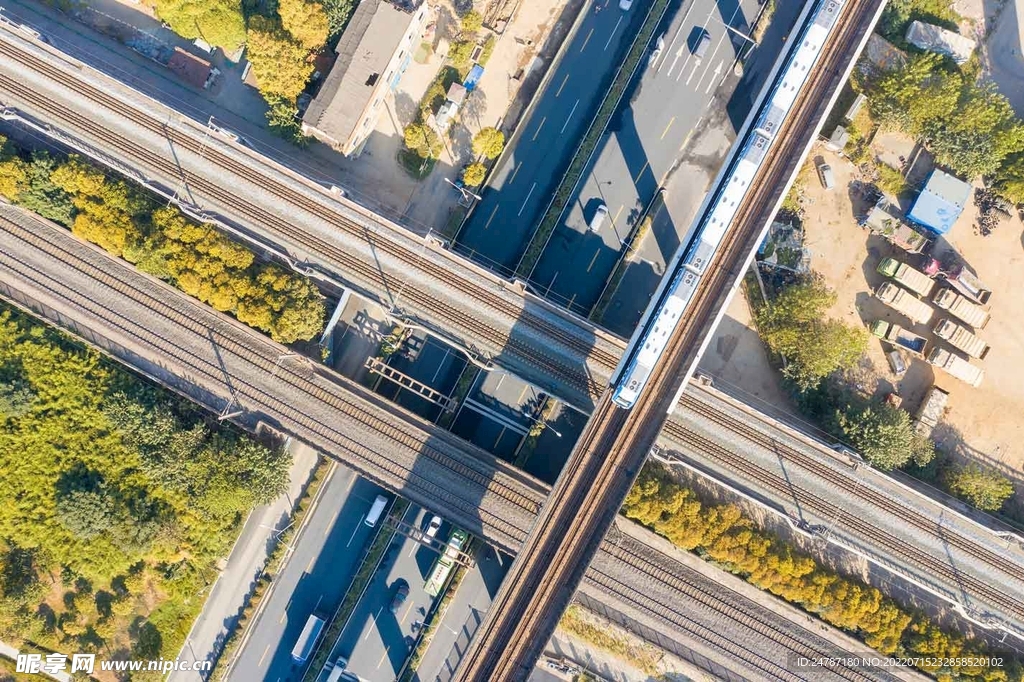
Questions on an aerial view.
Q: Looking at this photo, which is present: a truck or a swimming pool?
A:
truck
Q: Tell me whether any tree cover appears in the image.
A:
Yes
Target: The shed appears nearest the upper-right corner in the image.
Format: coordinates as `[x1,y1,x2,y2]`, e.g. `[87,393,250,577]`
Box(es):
[895,20,975,72]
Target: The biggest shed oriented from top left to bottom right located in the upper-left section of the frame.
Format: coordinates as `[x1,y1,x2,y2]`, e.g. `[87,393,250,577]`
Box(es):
[167,45,218,93]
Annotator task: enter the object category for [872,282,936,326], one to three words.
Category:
truck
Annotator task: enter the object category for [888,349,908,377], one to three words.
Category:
car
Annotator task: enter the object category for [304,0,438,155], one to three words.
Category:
building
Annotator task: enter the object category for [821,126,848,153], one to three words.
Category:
shed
